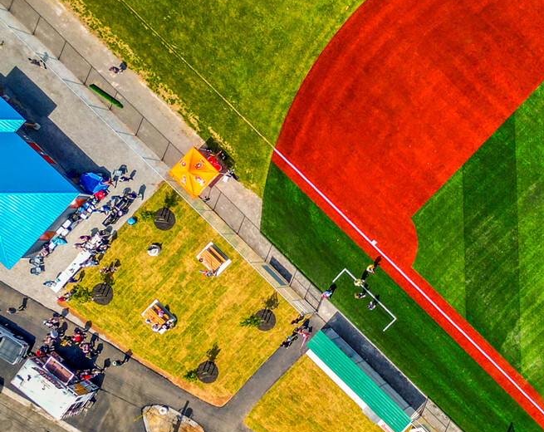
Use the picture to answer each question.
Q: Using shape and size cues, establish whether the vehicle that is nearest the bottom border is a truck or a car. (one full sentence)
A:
It looks like the vehicle that is nearest the bottom border is a truck.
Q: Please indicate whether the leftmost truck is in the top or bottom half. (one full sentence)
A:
You can find the leftmost truck in the bottom half.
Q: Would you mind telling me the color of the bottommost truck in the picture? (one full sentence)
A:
The bottommost truck is white.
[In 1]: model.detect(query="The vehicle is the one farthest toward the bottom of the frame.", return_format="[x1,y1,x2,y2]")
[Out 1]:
[13,354,102,419]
